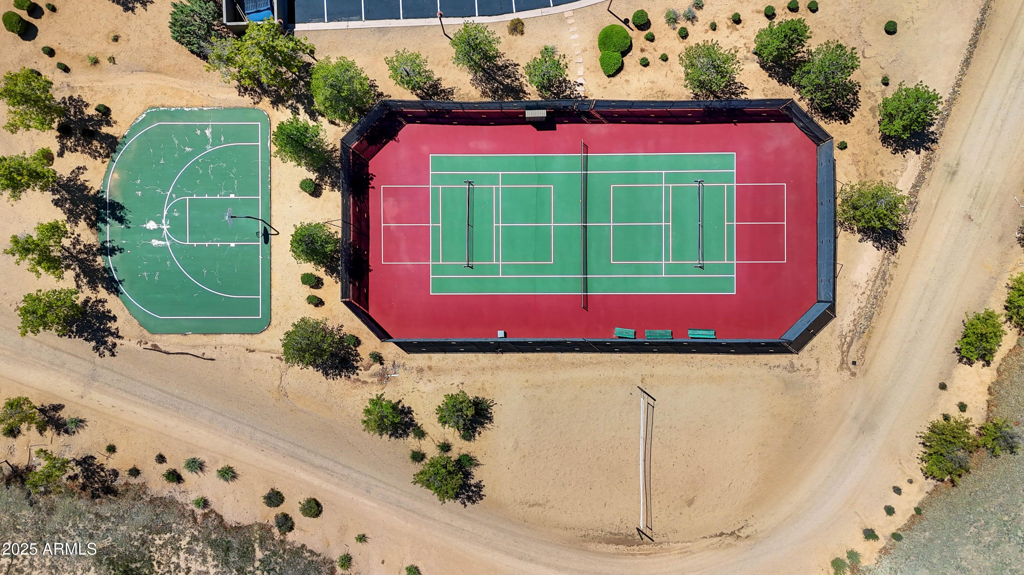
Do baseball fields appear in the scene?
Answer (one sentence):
No, no baseball field can be seen from above.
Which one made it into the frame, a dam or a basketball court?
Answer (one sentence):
Visible in the photo is a basketball court.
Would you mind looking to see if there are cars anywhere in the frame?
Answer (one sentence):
No, there isn't any car down there.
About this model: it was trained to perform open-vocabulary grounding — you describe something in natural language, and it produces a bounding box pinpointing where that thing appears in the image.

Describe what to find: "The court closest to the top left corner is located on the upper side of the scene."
[97,107,271,333]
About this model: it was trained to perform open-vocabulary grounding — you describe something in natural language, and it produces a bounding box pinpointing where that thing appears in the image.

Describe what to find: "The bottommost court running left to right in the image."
[483,367,828,528]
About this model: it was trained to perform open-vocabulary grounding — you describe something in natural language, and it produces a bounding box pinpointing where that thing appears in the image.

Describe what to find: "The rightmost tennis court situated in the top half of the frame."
[349,108,817,340]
